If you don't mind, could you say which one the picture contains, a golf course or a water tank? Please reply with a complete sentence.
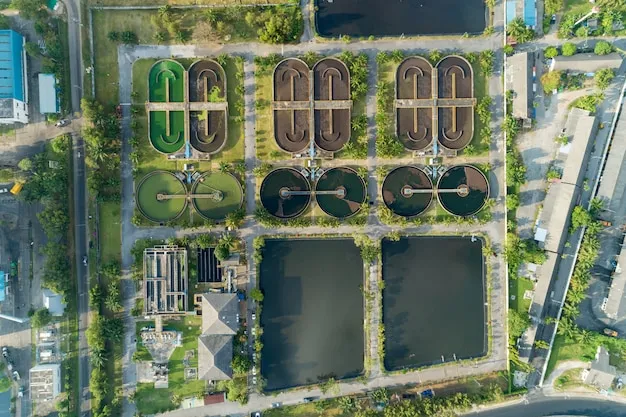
The one in the frame is a water tank.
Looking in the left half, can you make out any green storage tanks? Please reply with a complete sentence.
Yes, you'll find a green storage tank in the left half.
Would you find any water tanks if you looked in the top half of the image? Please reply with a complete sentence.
Yes, a water tank appears in the top half of the image.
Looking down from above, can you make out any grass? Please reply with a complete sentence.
Yes, grass shows up in the scene.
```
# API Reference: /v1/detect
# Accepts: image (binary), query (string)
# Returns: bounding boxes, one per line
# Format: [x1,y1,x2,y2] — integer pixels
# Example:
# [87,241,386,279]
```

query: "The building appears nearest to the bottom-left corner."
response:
[31,365,61,399]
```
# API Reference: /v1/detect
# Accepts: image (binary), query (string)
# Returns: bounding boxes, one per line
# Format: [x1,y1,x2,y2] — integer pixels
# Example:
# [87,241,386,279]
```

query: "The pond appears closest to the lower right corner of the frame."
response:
[381,235,487,372]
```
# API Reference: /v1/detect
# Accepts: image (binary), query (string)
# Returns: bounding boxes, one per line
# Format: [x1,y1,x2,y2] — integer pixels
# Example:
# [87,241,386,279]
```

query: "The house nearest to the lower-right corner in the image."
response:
[582,347,617,391]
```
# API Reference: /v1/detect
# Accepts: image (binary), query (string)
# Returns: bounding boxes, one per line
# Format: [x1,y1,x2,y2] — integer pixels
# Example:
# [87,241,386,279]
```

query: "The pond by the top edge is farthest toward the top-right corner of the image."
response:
[316,0,488,39]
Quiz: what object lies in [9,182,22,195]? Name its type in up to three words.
vehicle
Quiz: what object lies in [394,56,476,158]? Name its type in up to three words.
water tank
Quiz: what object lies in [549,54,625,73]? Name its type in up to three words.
building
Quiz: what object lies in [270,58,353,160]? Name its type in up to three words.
water tank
